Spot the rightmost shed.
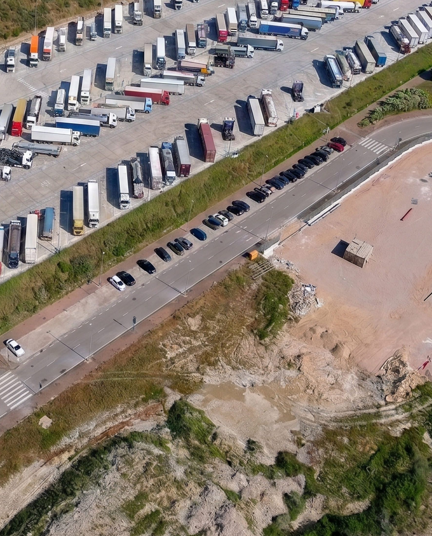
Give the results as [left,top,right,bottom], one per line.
[343,239,373,267]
